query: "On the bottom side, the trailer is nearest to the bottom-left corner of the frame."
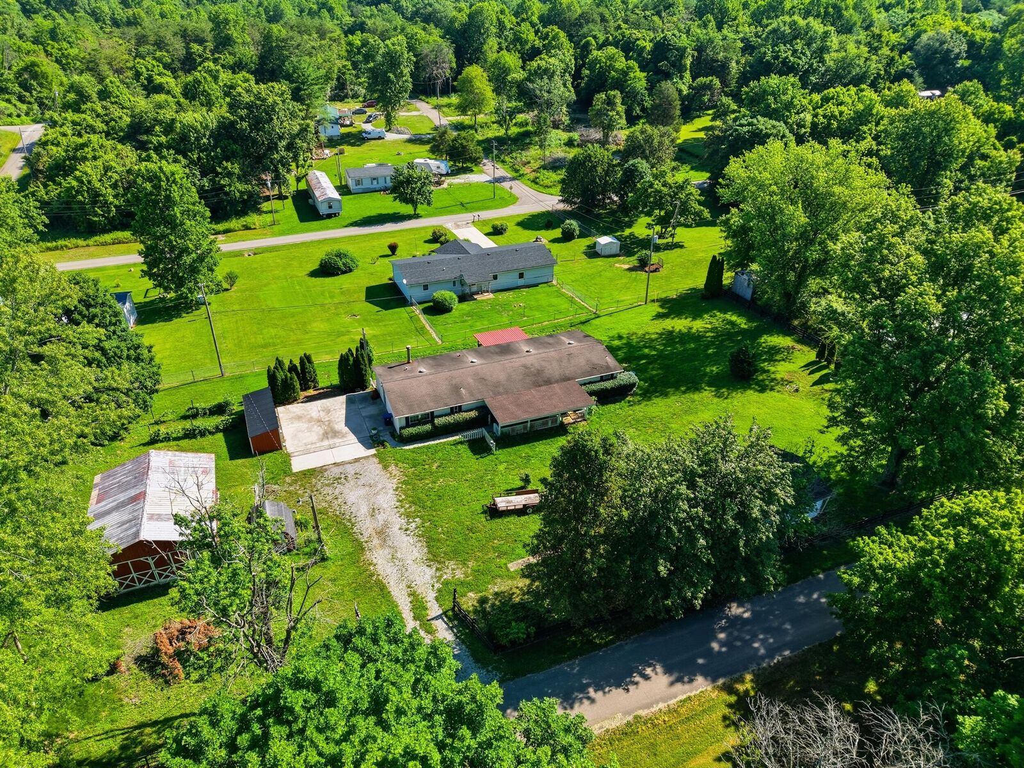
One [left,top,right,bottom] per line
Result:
[481,486,540,512]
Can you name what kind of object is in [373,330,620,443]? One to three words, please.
house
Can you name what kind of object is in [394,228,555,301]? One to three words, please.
house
